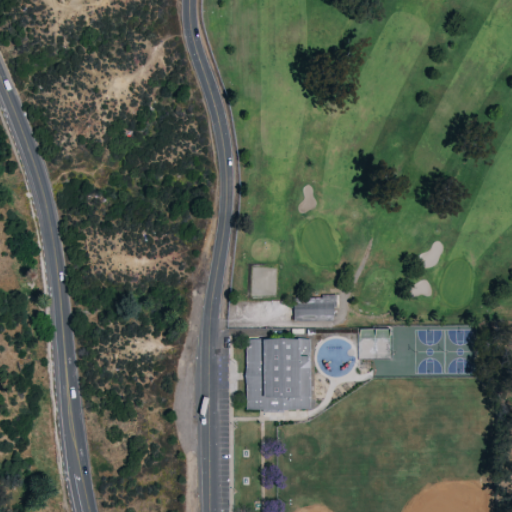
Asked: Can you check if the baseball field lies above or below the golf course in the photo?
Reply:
below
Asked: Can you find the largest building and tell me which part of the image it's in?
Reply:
bottom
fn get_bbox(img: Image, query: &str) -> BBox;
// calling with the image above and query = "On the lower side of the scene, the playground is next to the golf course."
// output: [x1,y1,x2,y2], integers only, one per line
[314,336,358,380]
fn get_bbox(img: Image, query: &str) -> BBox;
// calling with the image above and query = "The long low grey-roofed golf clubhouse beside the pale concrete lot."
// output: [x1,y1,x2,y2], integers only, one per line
[294,295,340,321]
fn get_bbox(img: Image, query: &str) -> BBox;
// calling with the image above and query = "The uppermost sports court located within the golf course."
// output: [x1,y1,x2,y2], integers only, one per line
[250,265,278,299]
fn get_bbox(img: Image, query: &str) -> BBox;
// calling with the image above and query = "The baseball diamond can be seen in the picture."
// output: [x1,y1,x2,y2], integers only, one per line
[278,378,490,512]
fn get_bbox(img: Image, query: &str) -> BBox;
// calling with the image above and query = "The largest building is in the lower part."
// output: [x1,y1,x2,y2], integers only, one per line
[247,338,311,410]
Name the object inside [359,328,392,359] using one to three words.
sports court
